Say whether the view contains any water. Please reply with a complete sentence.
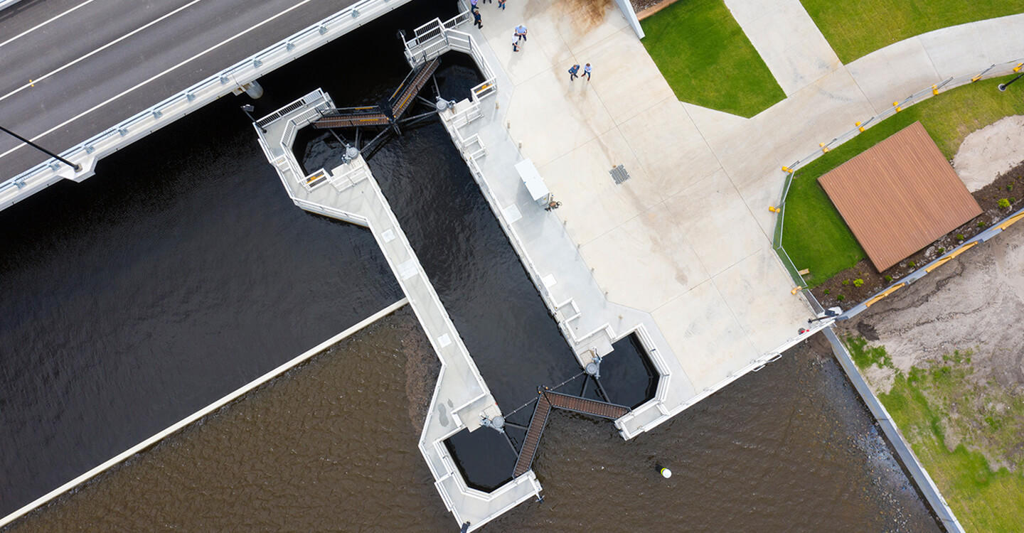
Yes, some water is visible.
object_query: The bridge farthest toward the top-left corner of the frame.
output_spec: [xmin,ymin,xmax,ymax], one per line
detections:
[0,0,420,213]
